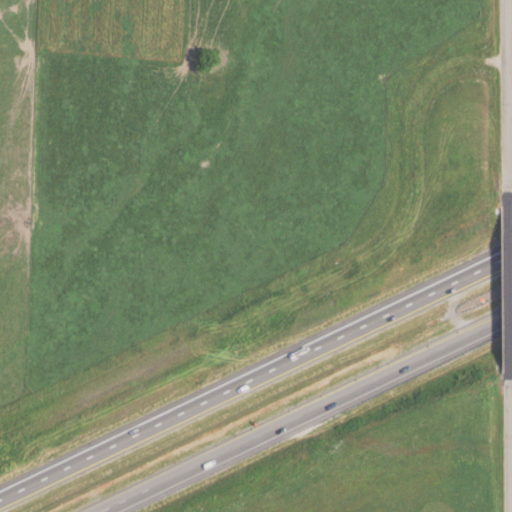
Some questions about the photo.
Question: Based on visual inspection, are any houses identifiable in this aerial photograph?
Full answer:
No, there's no house here.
